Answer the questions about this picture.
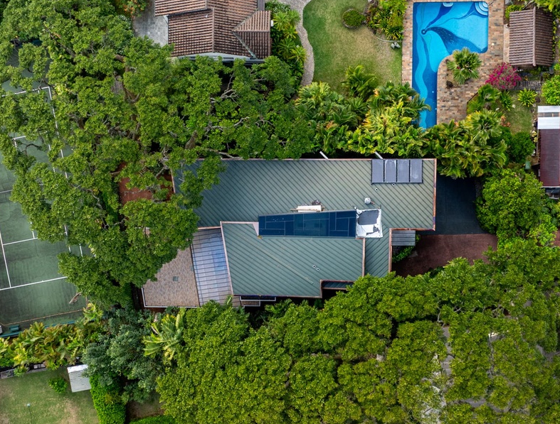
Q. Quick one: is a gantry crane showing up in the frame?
No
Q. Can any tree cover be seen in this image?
Yes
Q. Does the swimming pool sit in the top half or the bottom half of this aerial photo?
top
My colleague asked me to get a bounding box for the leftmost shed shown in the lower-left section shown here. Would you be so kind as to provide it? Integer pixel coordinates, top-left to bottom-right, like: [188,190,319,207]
[66,363,94,393]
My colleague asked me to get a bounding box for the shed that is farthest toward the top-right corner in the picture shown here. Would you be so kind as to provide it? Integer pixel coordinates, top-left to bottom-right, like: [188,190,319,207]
[507,6,555,67]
